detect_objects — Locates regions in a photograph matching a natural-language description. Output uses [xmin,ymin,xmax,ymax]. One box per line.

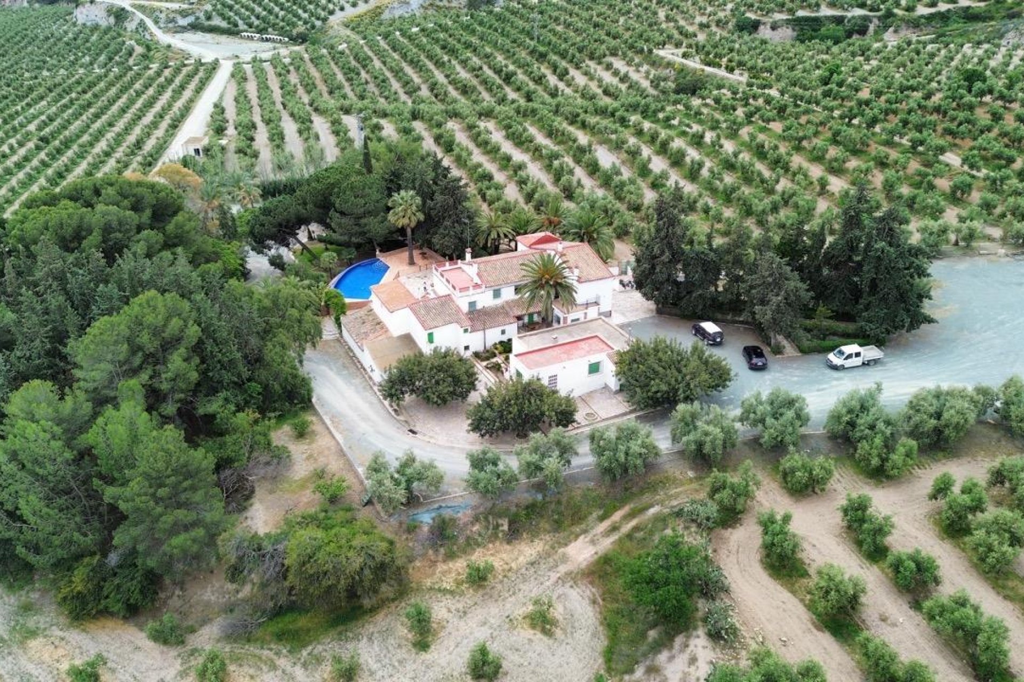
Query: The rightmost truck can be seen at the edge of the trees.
[827,343,887,370]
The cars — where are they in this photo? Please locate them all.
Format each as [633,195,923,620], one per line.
[693,323,726,347]
[742,349,767,371]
